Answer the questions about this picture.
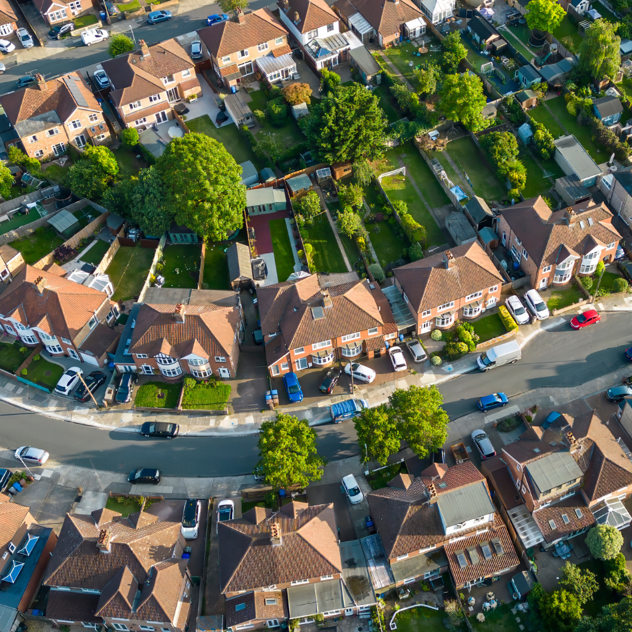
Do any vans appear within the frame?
Yes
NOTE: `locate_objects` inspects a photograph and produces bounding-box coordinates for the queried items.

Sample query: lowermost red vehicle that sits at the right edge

[569,310,603,330]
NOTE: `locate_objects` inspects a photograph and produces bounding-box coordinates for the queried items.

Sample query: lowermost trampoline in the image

[223,228,241,244]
